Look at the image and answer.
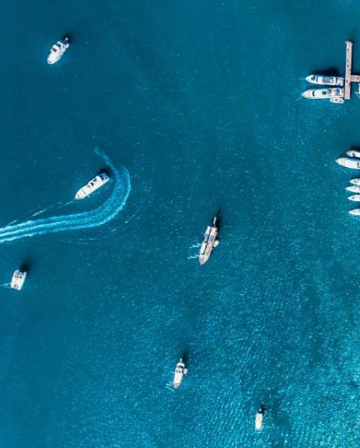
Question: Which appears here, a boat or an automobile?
boat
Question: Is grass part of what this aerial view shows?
No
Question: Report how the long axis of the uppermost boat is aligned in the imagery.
diagonally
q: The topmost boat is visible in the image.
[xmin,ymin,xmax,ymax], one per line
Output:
[49,38,72,61]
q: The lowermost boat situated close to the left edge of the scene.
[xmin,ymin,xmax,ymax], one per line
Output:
[1,267,27,290]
